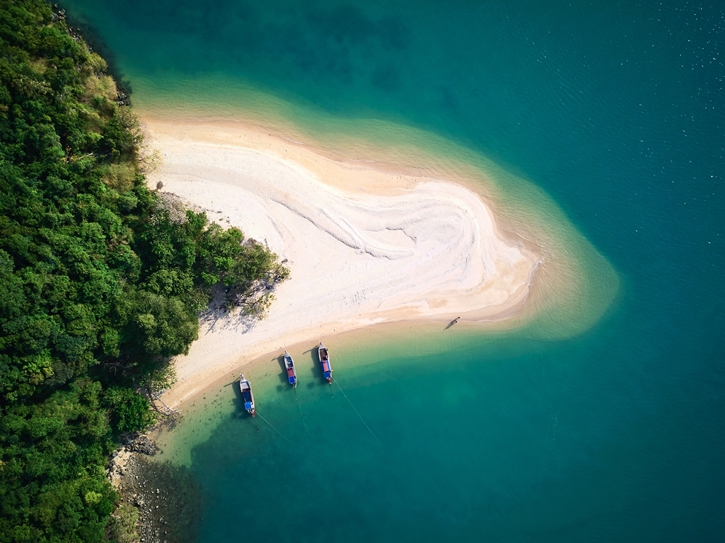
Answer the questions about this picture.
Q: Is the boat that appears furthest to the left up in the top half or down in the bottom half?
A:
bottom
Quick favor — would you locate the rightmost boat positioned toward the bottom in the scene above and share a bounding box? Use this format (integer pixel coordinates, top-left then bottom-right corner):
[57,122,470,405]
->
[319,343,333,396]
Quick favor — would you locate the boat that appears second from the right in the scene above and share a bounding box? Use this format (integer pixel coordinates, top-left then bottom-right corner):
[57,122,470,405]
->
[285,352,297,400]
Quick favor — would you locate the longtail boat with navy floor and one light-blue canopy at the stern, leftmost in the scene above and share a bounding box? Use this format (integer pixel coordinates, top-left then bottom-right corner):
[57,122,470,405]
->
[239,375,260,428]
